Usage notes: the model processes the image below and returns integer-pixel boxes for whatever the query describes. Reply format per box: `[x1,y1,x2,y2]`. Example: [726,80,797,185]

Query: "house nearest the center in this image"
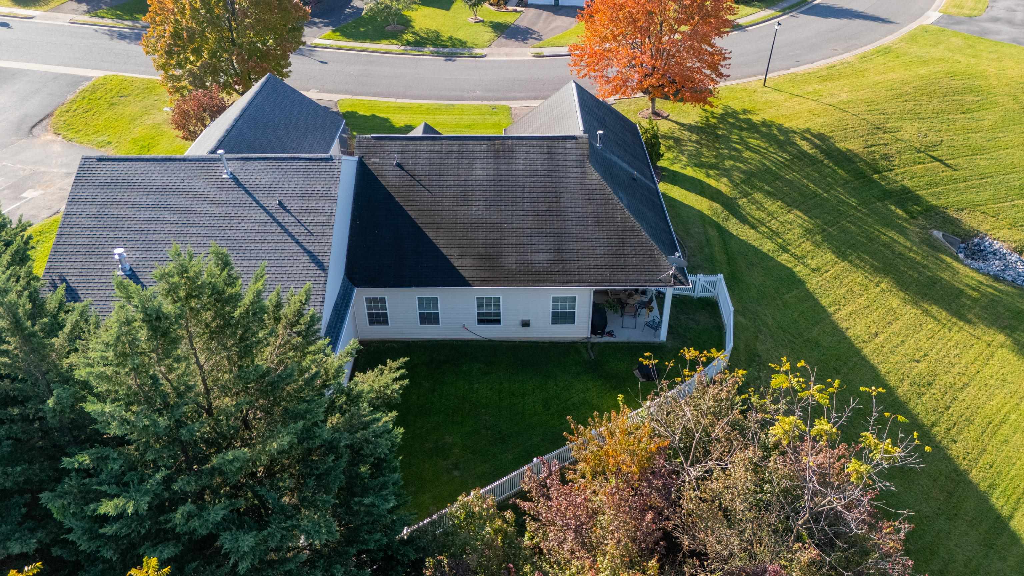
[345,74,695,341]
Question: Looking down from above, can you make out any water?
No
